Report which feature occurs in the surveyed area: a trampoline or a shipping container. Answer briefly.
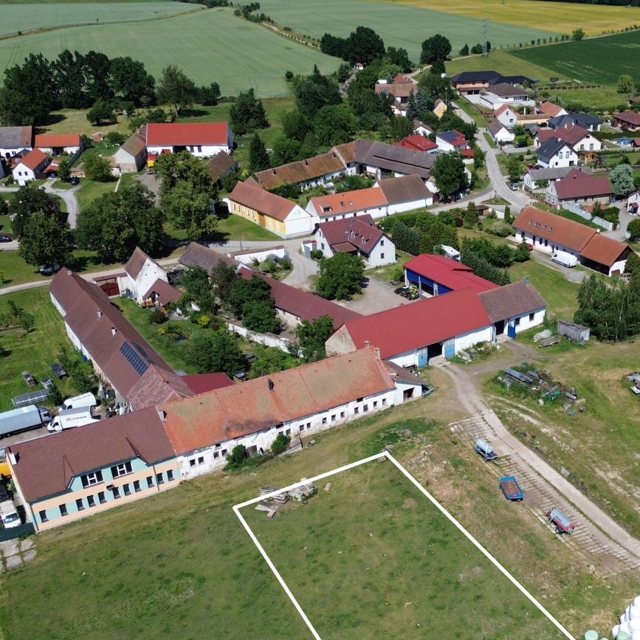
shipping container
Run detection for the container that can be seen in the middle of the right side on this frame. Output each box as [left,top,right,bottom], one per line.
[557,321,593,347]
